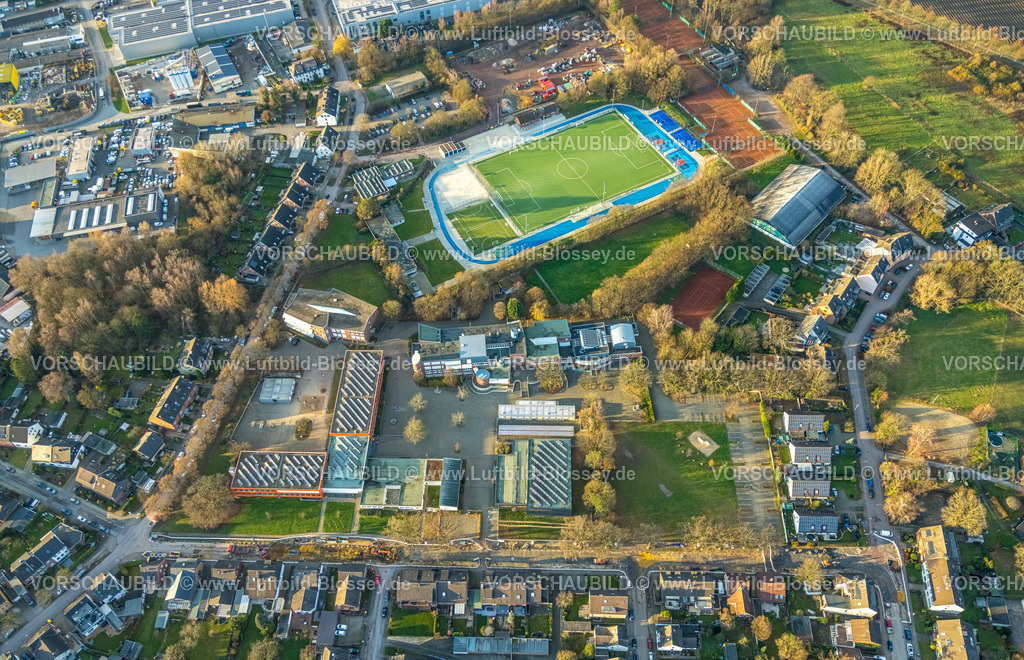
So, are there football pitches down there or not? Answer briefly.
Yes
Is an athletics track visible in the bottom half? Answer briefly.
No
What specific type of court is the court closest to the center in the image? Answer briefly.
tennis court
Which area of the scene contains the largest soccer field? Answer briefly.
top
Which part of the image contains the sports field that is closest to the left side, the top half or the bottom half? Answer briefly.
top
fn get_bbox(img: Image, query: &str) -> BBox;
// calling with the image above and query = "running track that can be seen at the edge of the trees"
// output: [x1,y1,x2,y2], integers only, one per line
[428,103,690,265]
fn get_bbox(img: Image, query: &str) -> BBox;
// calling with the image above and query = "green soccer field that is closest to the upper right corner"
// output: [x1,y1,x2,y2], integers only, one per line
[472,111,675,235]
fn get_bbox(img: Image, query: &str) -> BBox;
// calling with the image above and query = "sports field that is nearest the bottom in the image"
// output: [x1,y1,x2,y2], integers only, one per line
[446,199,519,255]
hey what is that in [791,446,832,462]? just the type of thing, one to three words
solar array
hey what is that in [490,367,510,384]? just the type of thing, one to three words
building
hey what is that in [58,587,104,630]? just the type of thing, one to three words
house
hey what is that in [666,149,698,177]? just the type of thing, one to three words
basketball court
